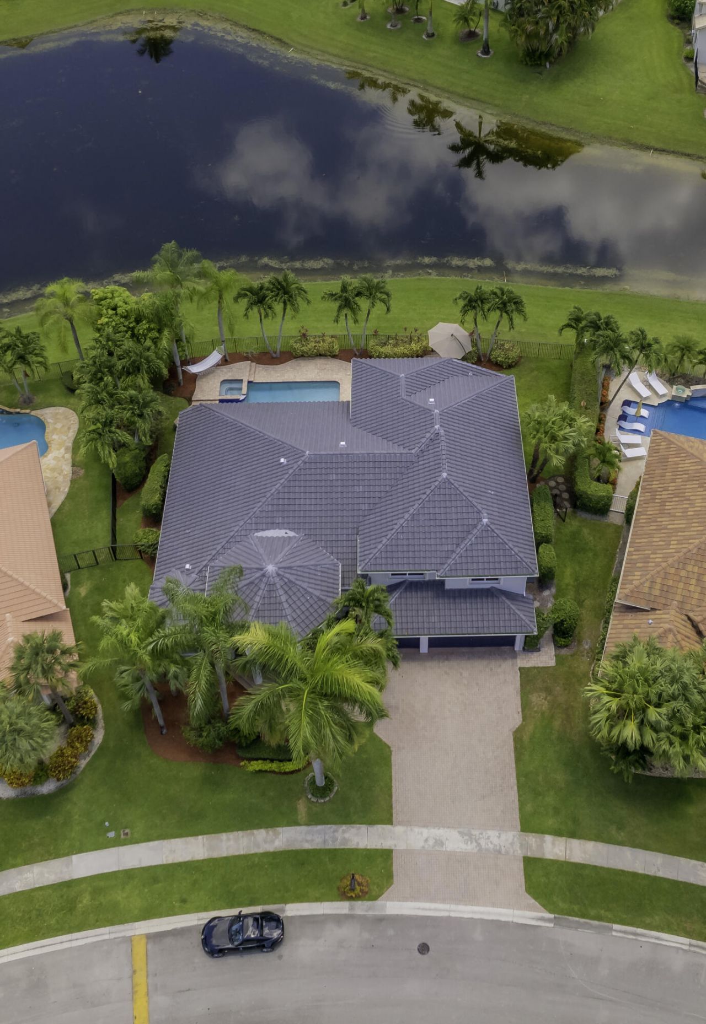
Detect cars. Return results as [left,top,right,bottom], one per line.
[201,914,284,960]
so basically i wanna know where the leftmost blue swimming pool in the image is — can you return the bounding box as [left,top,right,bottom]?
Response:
[0,404,53,466]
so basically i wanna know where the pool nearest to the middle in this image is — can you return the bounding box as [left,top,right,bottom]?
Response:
[190,360,343,405]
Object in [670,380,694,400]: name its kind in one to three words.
fountain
